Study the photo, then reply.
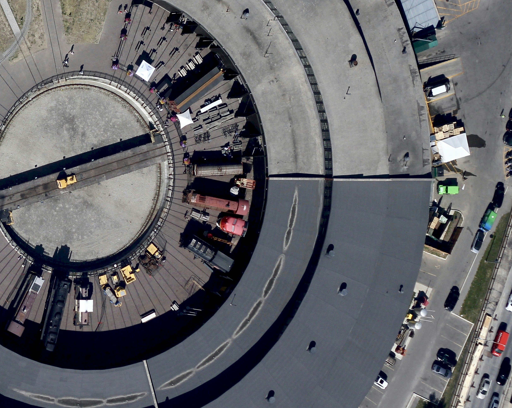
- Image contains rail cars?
Yes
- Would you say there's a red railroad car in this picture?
Yes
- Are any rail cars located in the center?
Yes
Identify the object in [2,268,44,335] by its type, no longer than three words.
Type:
rail car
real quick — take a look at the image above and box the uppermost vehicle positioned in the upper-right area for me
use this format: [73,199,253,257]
[423,78,450,99]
